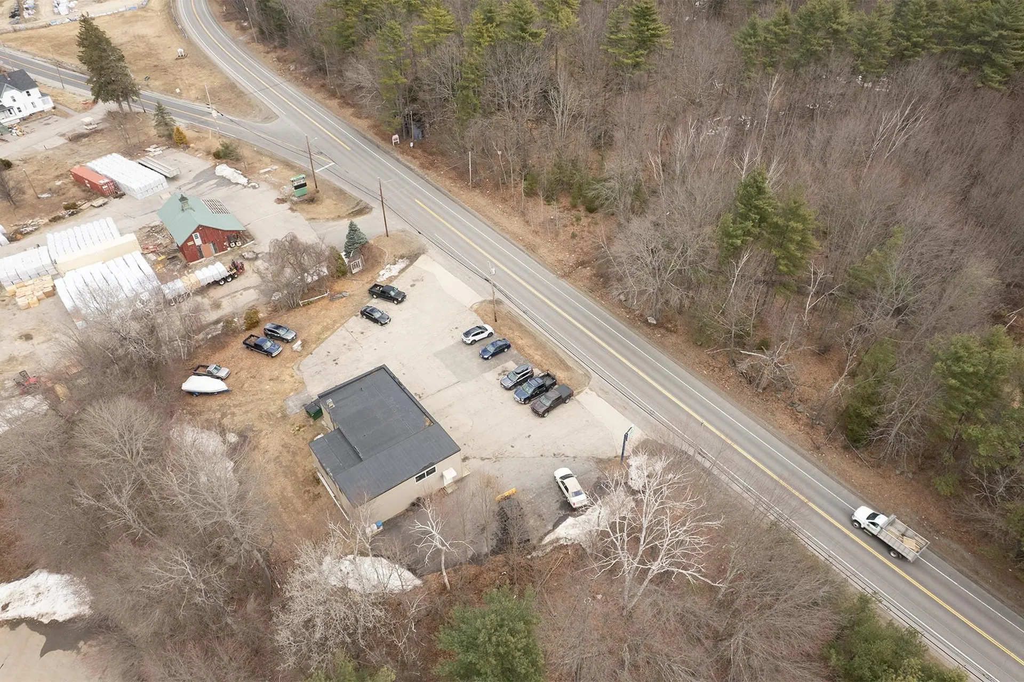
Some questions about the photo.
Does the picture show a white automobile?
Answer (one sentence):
Yes, I can see a white automobile in this picture.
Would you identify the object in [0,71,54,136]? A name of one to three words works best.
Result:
house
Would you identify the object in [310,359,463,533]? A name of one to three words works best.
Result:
building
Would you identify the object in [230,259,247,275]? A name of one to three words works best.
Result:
work vehicle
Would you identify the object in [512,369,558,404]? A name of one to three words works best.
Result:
truck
